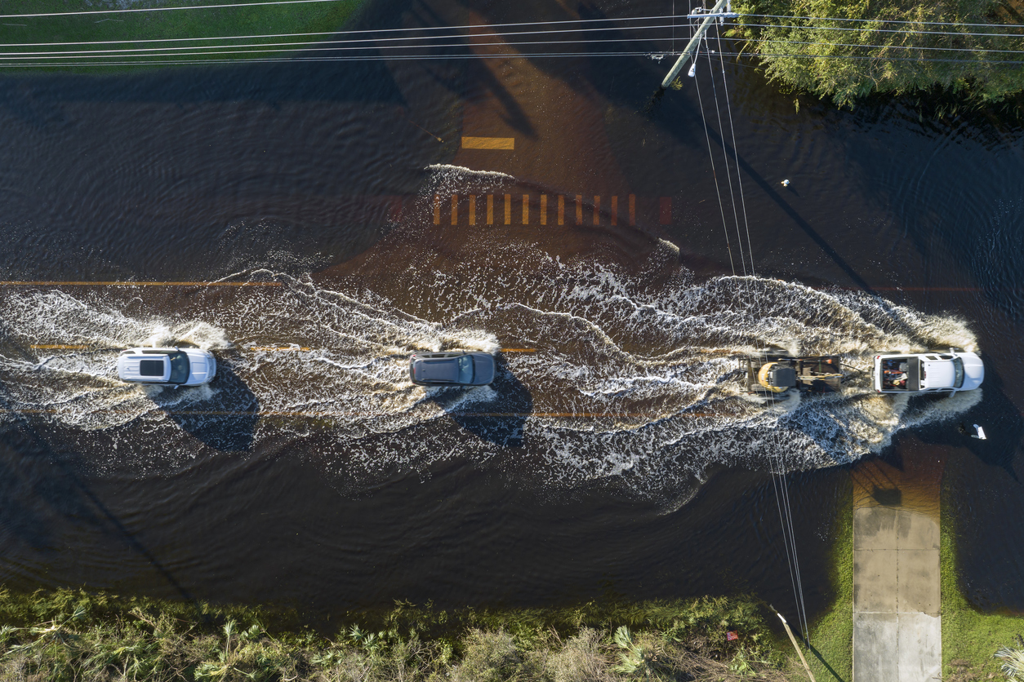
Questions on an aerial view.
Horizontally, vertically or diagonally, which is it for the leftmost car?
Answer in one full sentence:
Seen from above, the leftmost car lies horizontally.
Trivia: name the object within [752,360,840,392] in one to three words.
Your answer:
work vehicle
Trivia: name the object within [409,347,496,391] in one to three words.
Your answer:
car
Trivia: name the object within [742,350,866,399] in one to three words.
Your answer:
trailer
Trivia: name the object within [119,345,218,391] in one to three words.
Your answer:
car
